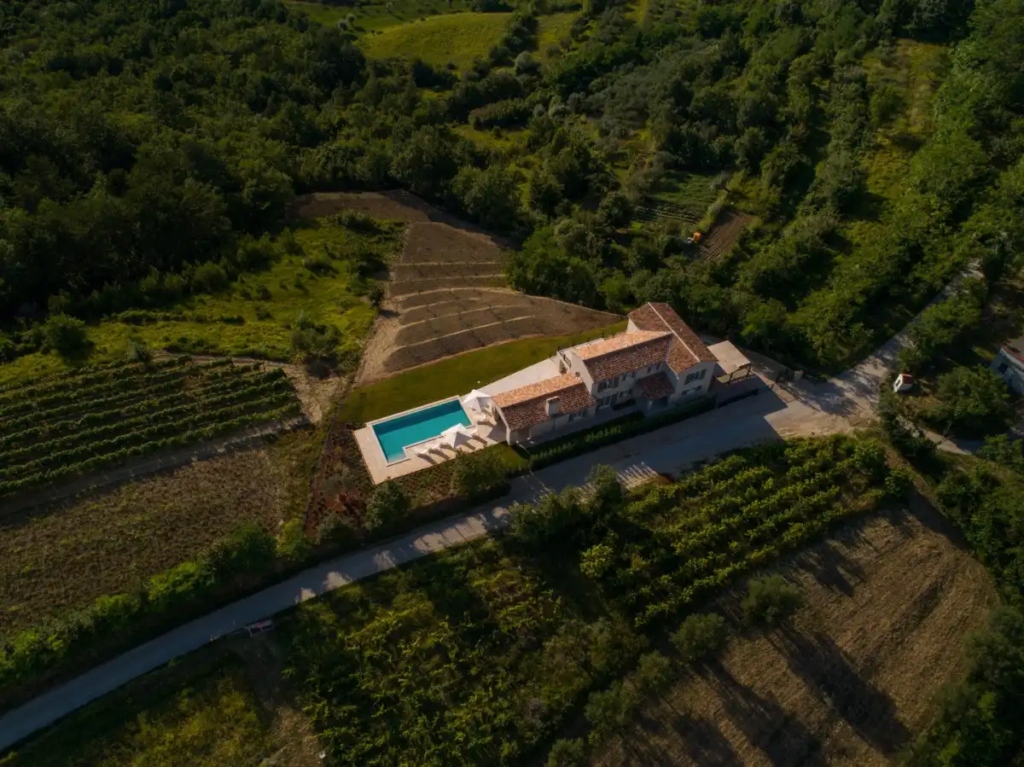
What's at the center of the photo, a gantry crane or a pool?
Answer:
pool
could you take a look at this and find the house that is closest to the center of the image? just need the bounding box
[491,300,718,442]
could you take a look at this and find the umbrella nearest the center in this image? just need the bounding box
[460,382,492,409]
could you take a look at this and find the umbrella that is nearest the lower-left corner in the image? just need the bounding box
[441,417,476,445]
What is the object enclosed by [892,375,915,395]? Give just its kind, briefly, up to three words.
building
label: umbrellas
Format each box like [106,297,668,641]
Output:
[441,417,476,445]
[460,382,492,409]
